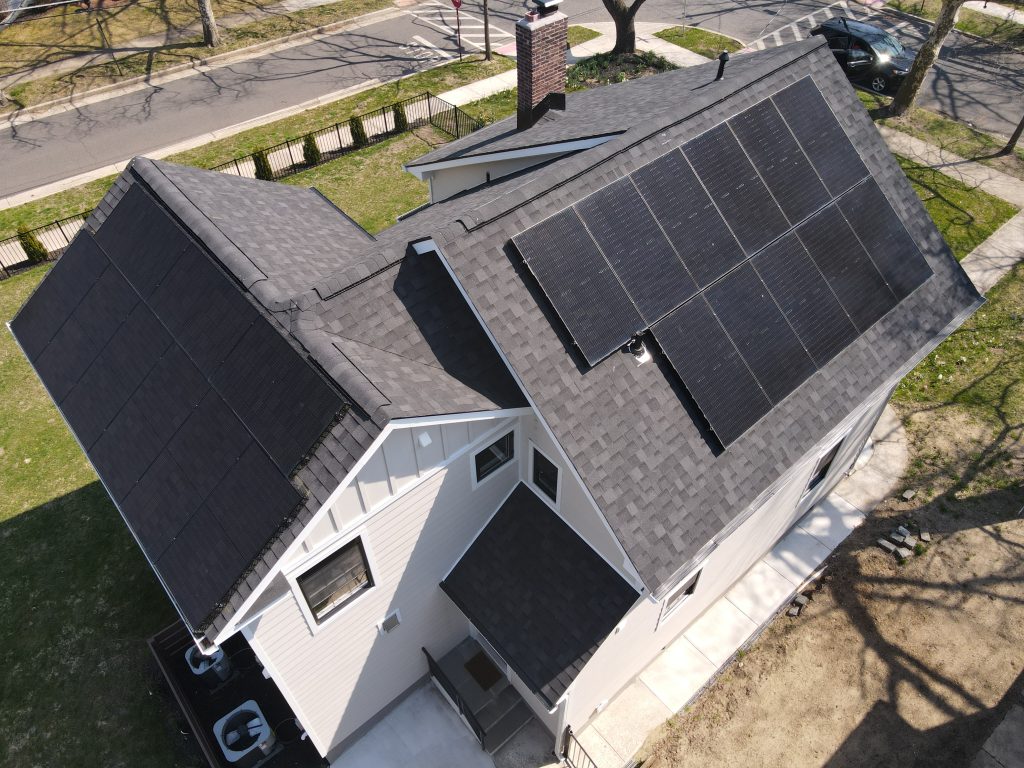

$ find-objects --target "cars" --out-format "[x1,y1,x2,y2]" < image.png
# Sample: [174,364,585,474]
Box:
[816,16,920,96]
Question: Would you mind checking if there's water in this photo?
No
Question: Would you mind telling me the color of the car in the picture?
black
